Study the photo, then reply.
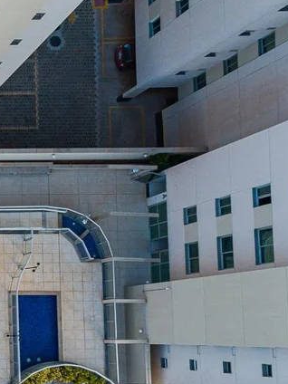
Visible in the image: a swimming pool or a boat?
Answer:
swimming pool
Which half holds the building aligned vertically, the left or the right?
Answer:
right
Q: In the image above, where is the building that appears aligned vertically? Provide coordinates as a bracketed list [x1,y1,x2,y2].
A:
[126,0,288,384]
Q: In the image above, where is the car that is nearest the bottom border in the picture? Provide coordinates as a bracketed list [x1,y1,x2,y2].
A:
[114,45,135,74]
